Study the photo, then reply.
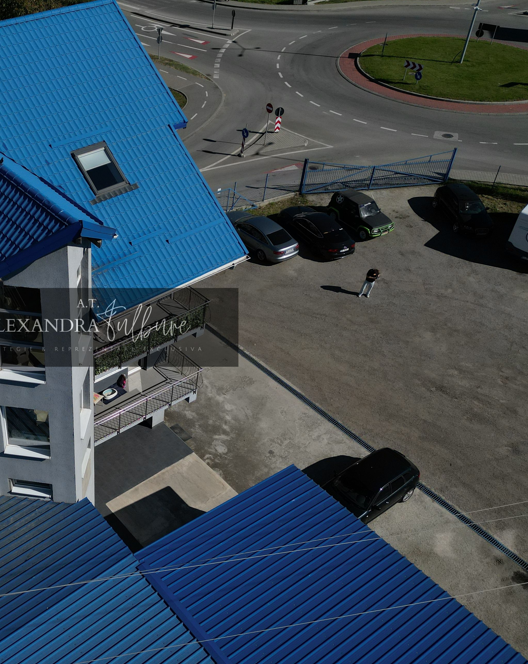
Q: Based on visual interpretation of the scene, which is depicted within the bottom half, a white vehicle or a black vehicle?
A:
black vehicle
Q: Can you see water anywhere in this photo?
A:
No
